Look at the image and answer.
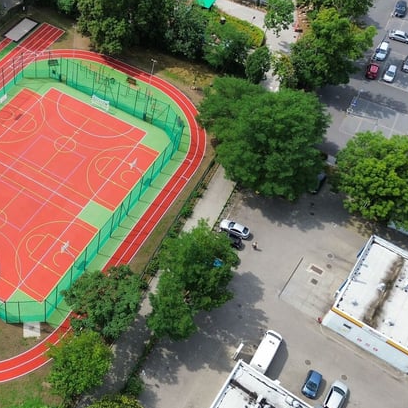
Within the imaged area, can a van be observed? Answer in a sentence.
Yes, I can see a van in this picture.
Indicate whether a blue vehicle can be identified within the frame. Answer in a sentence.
Yes, the frame does contain a blue vehicle.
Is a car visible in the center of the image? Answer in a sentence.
Yes, there is a car in the center of the image.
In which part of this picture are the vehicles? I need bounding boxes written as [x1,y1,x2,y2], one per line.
[248,330,281,373]
[219,221,251,241]
[395,0,407,14]
[383,64,398,81]
[389,32,408,45]
[376,43,390,58]
[325,380,349,408]
[218,232,246,251]
[301,368,324,400]
[401,55,408,71]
